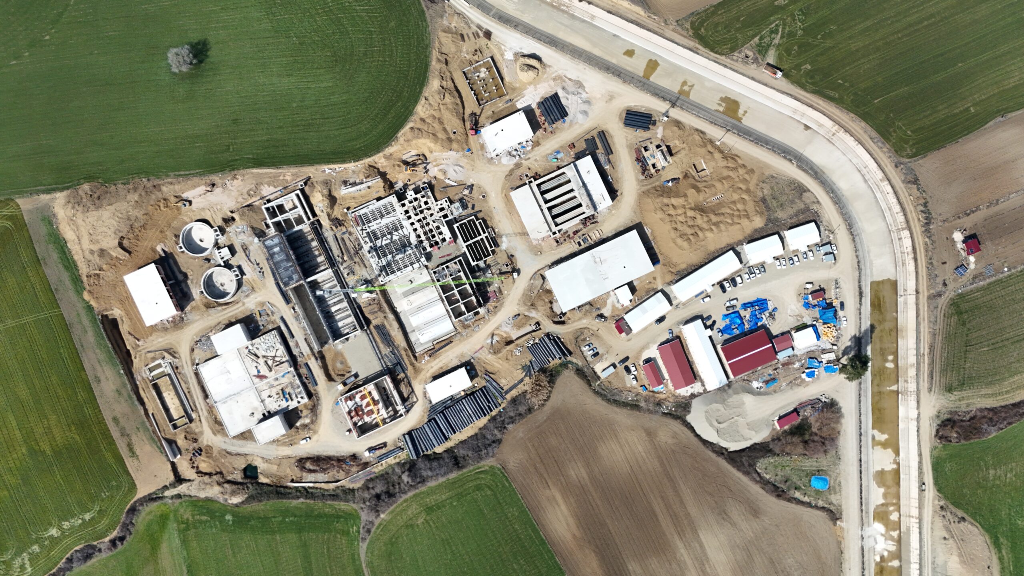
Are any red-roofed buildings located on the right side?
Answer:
Yes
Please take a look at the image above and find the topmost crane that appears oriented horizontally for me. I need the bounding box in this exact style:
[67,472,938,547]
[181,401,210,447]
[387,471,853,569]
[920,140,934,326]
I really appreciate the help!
[315,277,505,296]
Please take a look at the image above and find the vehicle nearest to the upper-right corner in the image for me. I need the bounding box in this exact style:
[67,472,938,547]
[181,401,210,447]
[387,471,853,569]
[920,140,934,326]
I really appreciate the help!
[763,62,785,78]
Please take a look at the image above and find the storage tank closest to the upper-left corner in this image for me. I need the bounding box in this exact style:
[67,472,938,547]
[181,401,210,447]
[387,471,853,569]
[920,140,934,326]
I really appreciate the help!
[177,221,224,257]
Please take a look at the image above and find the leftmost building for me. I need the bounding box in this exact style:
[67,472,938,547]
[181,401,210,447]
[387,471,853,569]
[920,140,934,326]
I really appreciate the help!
[124,264,183,327]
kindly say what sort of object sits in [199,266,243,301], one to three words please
storage tank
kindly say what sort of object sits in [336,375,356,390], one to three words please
vehicle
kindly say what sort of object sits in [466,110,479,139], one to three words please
vehicle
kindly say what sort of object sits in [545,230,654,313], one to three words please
building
